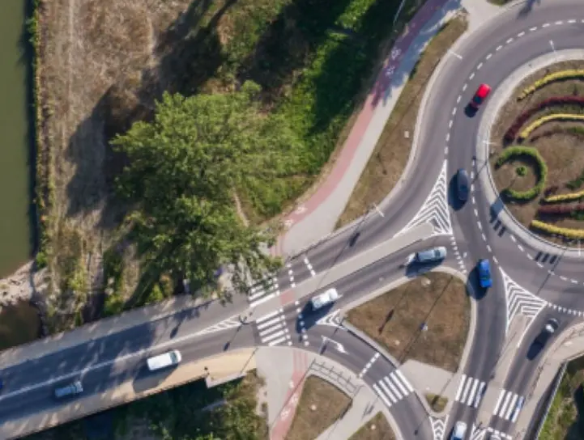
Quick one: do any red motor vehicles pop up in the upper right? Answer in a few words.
Yes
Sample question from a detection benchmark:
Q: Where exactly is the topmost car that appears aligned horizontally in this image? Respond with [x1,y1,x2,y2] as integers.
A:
[414,246,447,263]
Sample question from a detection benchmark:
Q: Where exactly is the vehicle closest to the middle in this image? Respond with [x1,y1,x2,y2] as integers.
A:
[311,288,340,309]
